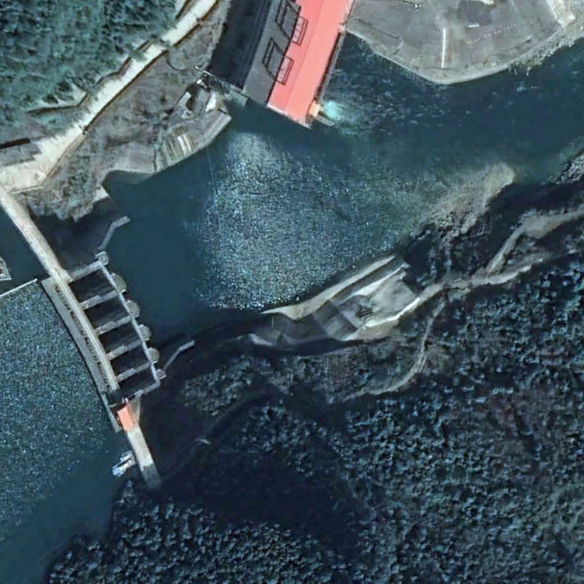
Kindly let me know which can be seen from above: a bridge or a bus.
bridge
